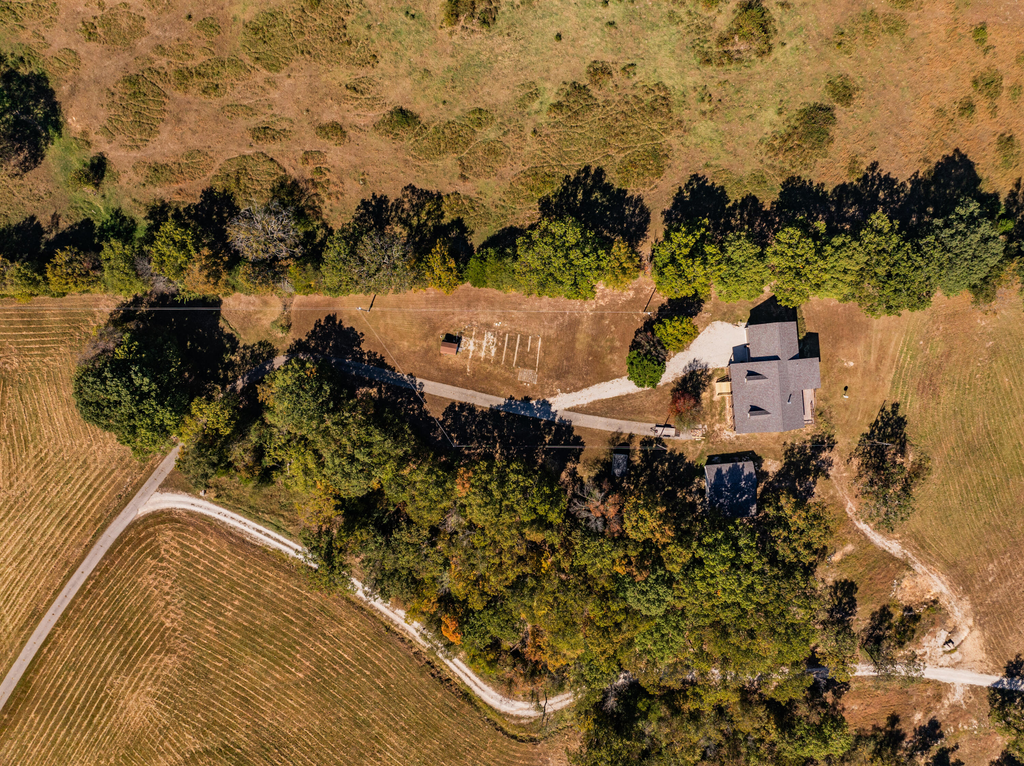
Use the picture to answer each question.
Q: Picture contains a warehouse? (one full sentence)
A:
No, no warehouse is visible in the view.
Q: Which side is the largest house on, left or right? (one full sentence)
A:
The largest house is on the right side of the image.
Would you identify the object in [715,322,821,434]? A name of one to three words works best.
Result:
house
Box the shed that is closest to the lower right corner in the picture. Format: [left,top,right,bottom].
[702,462,757,519]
